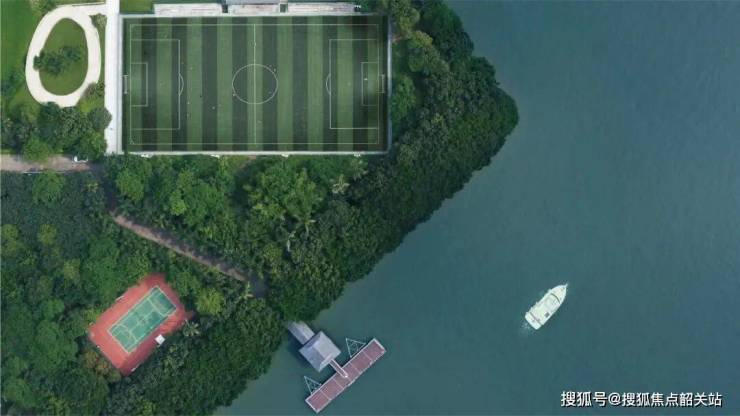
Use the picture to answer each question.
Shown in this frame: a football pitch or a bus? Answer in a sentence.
Of the two, only a football pitch appears.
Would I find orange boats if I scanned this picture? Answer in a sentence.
No, there isn't any orange boat down there.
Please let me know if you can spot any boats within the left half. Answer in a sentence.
No, no boat is visible within the left half.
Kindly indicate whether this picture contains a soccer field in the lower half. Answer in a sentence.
No, in the lower half there is no soccer field.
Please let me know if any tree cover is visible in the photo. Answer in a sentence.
Yes, tree cover shows up in the scene.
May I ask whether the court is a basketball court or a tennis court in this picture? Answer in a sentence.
It turns out the court is a tennis court.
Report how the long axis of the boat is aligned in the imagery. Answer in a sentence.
In this picture, the boat lies at an angle.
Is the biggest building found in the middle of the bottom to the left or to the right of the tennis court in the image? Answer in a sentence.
Compared with the tennis court, the biggest building found in the middle of the bottom is located further to the right.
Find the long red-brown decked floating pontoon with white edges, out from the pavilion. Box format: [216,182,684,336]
[306,338,386,413]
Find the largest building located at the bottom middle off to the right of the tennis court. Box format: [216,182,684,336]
[300,331,340,372]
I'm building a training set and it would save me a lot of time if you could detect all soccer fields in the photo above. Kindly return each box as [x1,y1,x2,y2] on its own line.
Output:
[119,13,391,155]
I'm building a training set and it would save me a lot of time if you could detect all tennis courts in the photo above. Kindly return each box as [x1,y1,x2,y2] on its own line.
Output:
[88,269,194,375]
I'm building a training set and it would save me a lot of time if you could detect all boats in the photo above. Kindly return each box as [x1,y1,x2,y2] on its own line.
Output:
[525,284,568,329]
